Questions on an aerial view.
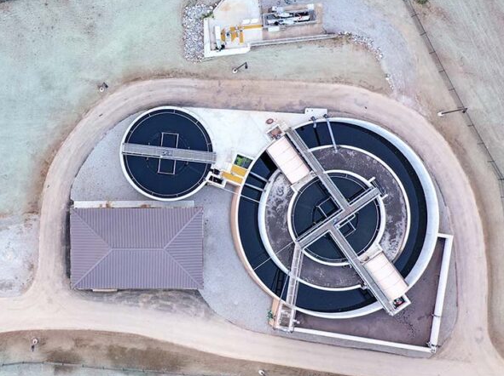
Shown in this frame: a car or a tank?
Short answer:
tank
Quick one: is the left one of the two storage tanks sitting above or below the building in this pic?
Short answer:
above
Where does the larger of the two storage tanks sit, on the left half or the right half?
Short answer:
right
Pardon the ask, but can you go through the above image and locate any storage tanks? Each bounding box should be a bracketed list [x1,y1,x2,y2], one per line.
[119,106,218,200]
[223,113,438,331]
